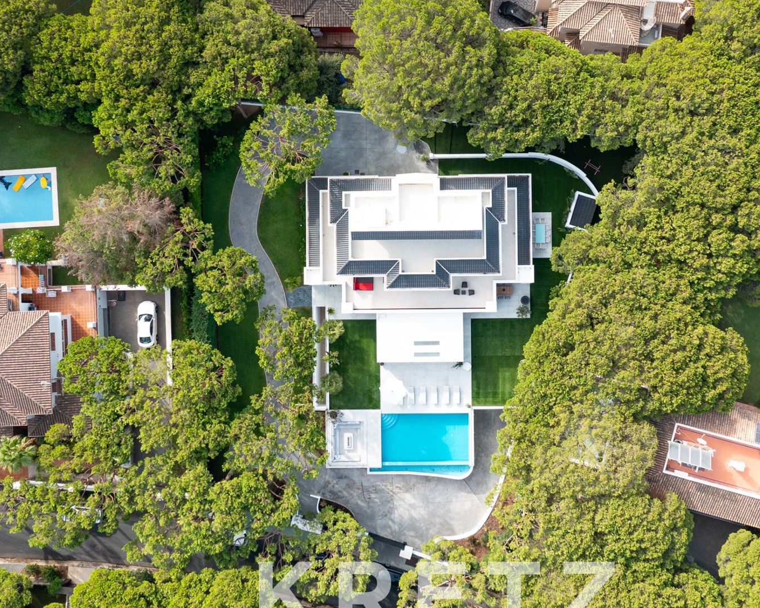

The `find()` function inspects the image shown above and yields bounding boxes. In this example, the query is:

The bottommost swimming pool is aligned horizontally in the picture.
[367,466,474,480]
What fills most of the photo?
trees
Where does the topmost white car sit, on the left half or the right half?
left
